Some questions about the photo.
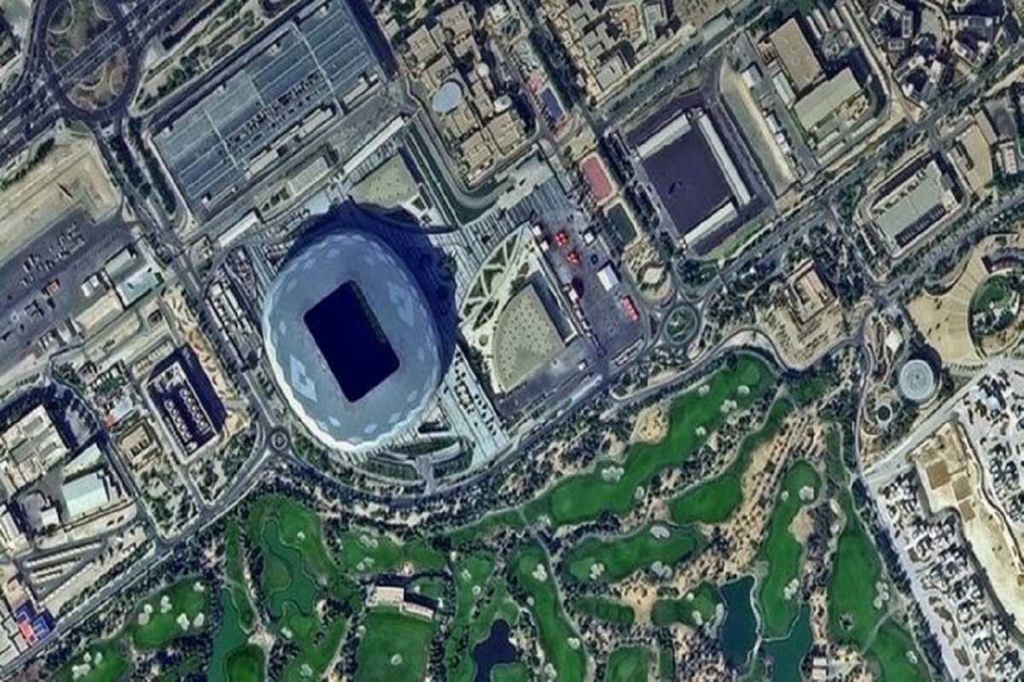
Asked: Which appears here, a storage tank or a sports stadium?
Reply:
sports stadium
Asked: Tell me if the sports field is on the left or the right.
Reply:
left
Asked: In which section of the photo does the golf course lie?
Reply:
bottom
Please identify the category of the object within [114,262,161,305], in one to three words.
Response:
building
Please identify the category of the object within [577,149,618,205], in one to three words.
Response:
sports court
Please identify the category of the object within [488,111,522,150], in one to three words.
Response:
house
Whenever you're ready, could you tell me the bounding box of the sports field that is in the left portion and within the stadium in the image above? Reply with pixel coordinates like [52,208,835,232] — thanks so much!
[314,294,389,389]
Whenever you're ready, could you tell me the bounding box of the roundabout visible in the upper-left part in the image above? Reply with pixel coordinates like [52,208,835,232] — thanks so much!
[37,0,141,117]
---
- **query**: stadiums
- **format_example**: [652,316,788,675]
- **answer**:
[261,228,443,458]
